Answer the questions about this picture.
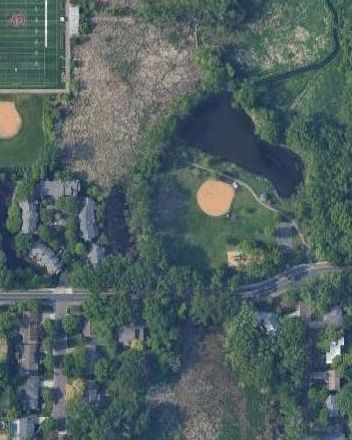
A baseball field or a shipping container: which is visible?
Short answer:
baseball field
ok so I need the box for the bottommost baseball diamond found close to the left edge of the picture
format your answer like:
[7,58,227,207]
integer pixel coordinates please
[0,94,48,168]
